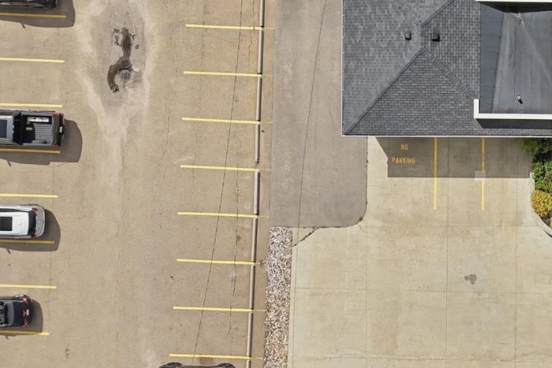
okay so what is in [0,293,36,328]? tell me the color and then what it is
black car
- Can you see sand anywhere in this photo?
No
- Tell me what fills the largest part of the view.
paved ground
